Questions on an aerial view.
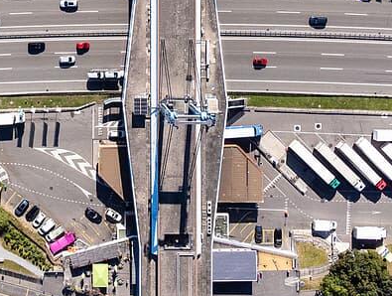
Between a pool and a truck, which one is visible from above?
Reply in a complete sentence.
I can see a truck in this picture.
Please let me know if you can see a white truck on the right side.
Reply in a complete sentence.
Yes, on the right side there is a white truck.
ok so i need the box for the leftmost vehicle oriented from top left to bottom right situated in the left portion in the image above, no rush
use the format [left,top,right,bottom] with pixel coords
[84,208,102,223]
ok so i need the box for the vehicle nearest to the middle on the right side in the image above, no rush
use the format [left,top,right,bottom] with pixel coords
[225,125,262,138]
